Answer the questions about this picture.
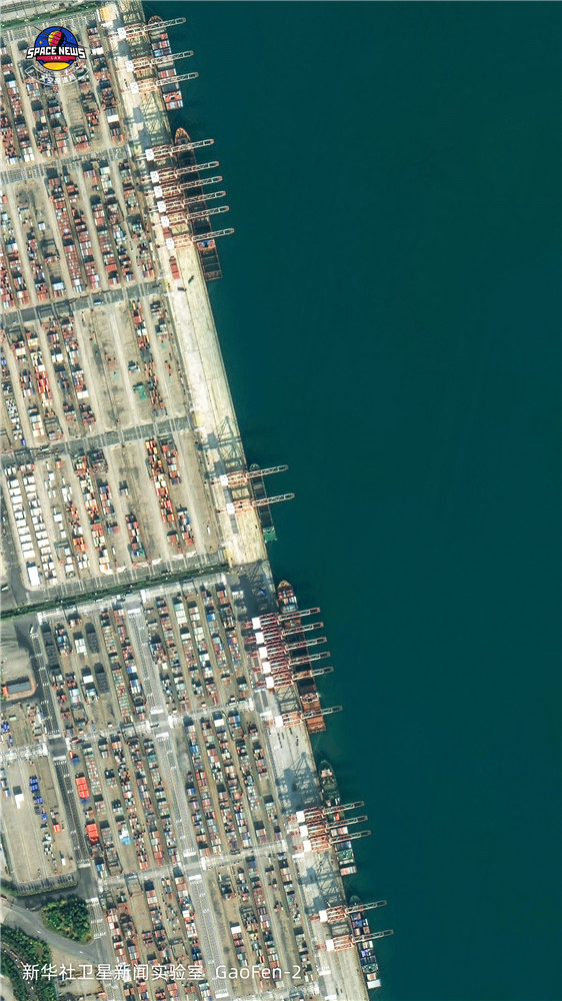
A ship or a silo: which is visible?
ship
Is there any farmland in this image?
No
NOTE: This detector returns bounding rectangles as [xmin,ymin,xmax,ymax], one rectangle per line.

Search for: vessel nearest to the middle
[251,464,279,543]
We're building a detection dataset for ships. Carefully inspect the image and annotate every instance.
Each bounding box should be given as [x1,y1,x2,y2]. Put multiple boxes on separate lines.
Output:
[176,128,223,281]
[350,896,382,987]
[320,761,357,875]
[150,16,185,110]
[251,464,279,543]
[278,581,325,733]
